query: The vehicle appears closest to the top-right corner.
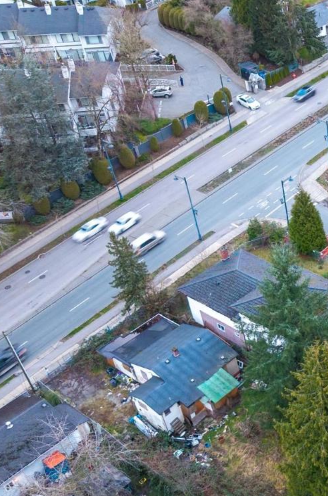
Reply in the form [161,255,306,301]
[293,81,317,100]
